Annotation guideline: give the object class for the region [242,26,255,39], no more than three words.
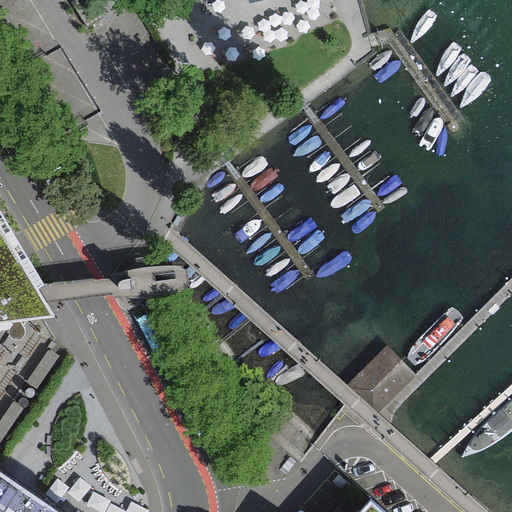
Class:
umbrella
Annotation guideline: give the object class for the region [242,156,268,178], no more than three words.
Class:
boat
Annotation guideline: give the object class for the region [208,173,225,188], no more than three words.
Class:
boat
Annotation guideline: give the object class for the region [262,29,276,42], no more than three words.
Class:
umbrella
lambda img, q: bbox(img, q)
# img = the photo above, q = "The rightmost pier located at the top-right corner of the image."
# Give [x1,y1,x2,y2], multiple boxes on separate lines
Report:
[390,32,465,130]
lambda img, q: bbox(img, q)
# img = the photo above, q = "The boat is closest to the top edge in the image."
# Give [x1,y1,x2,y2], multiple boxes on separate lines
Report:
[412,12,436,42]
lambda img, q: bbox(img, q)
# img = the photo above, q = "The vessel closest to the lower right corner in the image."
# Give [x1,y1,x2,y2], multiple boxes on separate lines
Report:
[462,400,512,458]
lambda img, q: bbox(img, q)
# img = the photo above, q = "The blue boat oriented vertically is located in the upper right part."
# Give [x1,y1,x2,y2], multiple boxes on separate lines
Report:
[436,123,448,156]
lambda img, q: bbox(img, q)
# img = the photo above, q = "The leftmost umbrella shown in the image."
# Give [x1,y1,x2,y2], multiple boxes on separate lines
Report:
[48,478,67,498]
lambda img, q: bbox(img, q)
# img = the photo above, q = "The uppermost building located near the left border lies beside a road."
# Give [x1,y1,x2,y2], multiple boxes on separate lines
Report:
[0,220,54,326]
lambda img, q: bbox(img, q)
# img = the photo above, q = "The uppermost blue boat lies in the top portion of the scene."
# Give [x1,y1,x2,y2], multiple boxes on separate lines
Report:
[374,60,402,82]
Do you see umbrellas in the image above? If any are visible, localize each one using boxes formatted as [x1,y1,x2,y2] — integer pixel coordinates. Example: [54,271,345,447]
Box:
[48,478,67,498]
[297,20,310,32]
[252,46,266,60]
[218,26,232,40]
[262,29,276,42]
[258,18,271,32]
[275,28,288,41]
[282,11,296,25]
[242,26,255,39]
[308,7,320,20]
[86,494,110,512]
[212,0,225,12]
[128,501,147,512]
[270,14,282,26]
[295,0,309,14]
[225,46,239,60]
[306,0,320,8]
[109,503,128,512]
[68,478,90,502]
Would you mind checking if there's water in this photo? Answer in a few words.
Yes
